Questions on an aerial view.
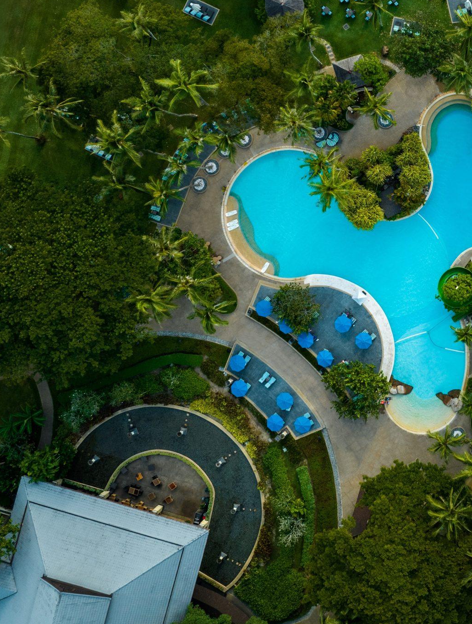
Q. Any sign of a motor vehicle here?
No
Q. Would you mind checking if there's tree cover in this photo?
Yes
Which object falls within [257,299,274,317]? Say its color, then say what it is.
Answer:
blue umbrella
